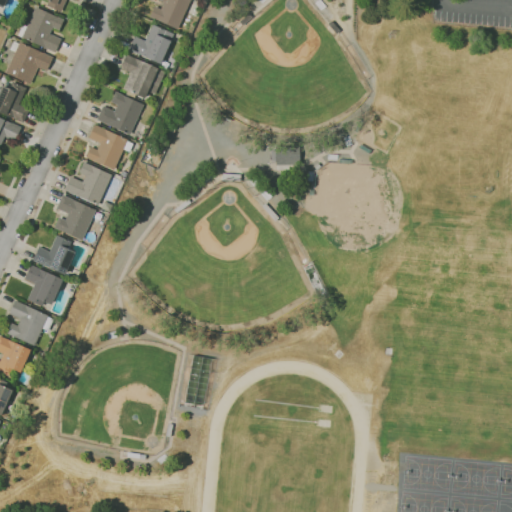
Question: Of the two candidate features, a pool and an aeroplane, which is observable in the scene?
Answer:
pool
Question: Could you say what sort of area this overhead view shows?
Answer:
sports ground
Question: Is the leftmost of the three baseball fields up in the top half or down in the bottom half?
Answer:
bottom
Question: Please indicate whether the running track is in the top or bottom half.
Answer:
bottom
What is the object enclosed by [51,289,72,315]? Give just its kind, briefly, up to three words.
swimming pool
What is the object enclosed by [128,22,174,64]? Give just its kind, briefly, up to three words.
house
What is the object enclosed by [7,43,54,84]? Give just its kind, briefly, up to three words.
house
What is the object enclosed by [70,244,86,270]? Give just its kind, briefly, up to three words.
swimming pool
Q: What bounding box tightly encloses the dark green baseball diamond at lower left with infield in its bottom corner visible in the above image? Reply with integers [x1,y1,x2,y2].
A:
[54,334,182,456]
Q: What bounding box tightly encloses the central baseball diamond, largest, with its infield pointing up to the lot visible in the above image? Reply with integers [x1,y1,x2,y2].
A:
[132,181,315,333]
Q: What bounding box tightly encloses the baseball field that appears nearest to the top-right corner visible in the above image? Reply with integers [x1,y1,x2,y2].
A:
[196,0,375,134]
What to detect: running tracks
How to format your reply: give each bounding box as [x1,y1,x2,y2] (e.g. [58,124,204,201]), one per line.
[202,358,368,512]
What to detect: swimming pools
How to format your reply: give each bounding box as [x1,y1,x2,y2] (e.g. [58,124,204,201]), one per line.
[70,244,86,270]
[51,289,72,315]
[2,0,20,18]
[18,371,31,386]
[85,232,97,244]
